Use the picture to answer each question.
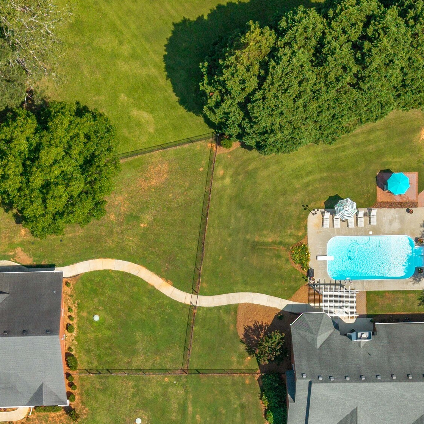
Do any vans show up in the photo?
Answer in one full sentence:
No, there's no van here.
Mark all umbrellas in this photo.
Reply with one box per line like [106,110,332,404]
[334,197,357,219]
[388,172,410,194]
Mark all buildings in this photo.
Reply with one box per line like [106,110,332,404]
[286,311,424,424]
[0,271,69,414]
